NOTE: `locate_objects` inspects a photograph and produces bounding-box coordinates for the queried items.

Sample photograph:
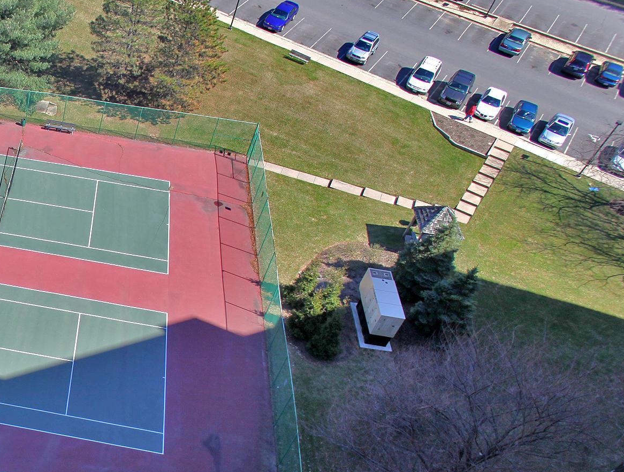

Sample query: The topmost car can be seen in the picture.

[265,4,298,29]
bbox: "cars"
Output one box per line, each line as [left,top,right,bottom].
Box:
[440,68,478,107]
[559,54,591,78]
[348,32,383,65]
[409,54,446,93]
[506,100,538,132]
[476,86,508,118]
[538,110,574,145]
[496,28,528,52]
[265,4,298,29]
[591,63,623,87]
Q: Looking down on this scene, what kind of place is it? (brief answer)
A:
sports ground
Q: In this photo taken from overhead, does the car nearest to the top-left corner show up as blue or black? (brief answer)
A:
blue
